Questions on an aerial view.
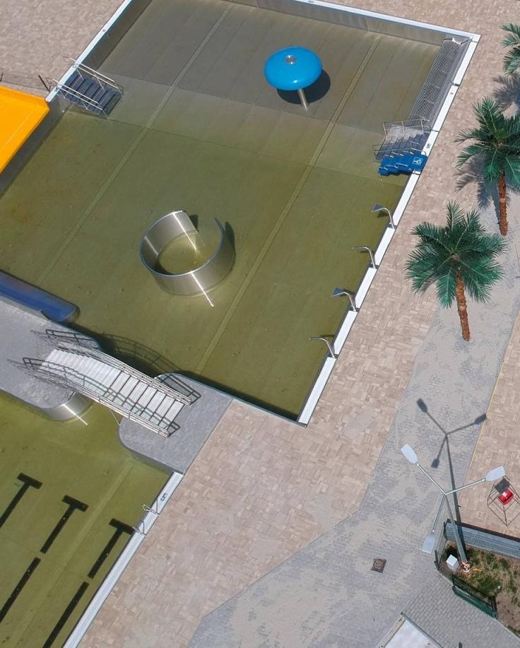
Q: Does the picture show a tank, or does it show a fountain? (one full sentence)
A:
The one in the frame is a fountain.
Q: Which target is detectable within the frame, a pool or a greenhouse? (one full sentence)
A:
Looking from above, you can make out a pool.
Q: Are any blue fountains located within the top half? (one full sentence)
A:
Yes, a blue fountain is visible within the top half.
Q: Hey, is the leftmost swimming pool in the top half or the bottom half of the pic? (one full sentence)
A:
Seen from above, the leftmost swimming pool lies in the bottom half of the view.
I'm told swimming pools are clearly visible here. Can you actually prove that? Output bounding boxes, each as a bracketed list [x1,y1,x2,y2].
[0,438,185,648]
[0,0,482,484]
